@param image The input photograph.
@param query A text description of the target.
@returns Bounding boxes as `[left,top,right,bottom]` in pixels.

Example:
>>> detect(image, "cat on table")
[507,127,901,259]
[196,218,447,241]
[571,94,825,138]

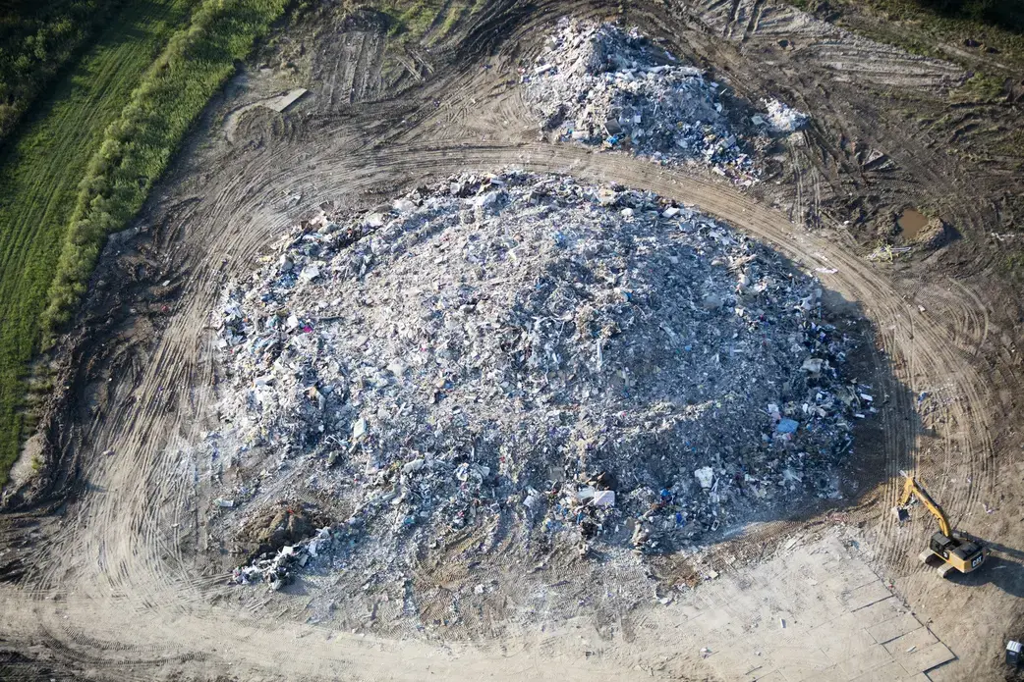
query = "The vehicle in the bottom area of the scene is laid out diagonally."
[881,472,987,572]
